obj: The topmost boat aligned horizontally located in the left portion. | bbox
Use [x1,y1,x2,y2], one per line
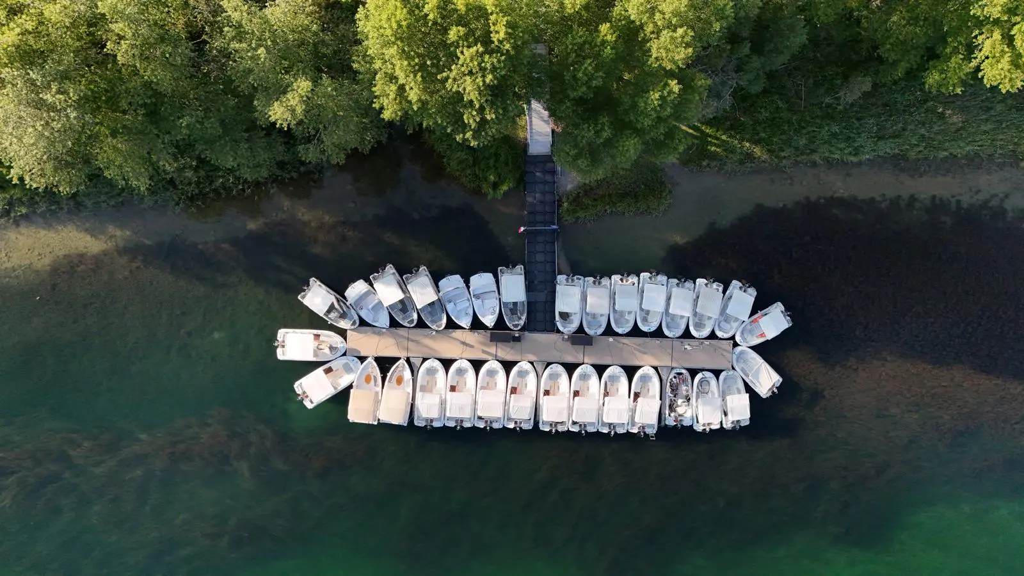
[274,329,350,361]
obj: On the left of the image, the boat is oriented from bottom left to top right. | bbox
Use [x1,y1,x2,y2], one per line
[295,357,361,408]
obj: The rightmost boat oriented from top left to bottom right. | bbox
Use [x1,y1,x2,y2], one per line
[732,347,781,397]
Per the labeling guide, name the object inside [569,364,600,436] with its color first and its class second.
white boat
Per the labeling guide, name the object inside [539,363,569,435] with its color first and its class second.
white boat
